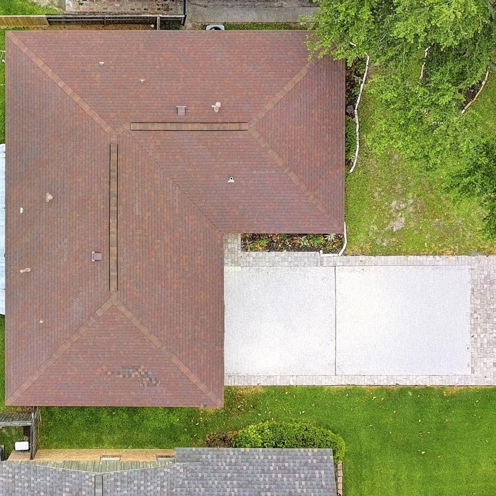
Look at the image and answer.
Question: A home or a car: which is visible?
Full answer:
Of the two, only a home appears.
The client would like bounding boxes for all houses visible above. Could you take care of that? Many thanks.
[3,28,347,408]
[0,443,337,496]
